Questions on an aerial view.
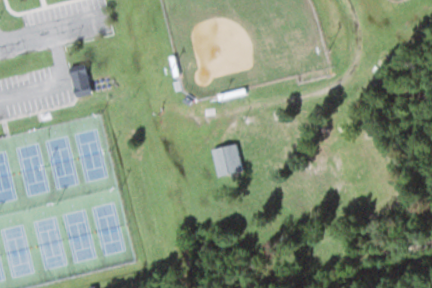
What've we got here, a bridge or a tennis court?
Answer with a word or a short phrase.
tennis court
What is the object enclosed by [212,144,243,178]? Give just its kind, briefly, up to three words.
barn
